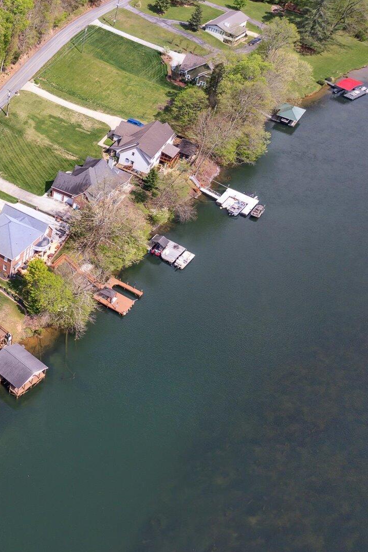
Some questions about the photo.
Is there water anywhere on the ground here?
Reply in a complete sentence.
Yes, there's water in this view.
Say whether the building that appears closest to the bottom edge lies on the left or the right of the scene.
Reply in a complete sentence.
The building that appears closest to the bottom edge sits on the left side.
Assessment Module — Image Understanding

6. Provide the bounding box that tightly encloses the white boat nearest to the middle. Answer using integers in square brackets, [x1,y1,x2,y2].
[176,251,199,271]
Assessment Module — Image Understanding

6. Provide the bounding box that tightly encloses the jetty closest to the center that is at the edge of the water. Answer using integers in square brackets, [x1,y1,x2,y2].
[148,237,188,265]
